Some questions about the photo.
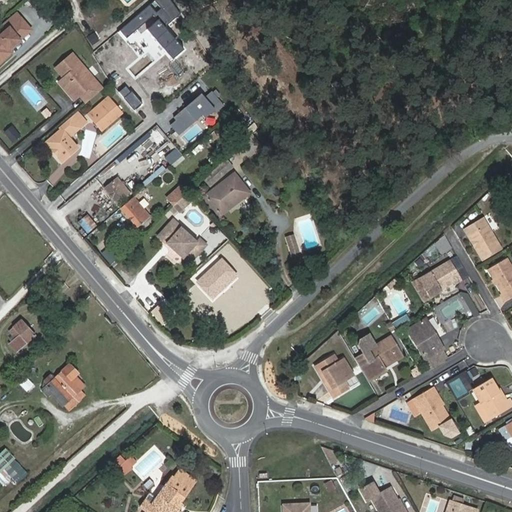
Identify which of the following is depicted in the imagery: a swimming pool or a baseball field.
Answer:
swimming pool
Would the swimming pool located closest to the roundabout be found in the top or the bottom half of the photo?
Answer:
bottom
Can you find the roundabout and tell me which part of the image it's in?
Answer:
bottom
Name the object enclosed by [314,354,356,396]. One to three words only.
house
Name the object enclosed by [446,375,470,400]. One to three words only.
swimming pool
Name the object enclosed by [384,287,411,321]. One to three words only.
swimming pool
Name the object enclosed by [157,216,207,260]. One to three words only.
house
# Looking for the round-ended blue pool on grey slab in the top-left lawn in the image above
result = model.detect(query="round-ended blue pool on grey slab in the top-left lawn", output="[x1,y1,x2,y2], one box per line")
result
[20,80,48,112]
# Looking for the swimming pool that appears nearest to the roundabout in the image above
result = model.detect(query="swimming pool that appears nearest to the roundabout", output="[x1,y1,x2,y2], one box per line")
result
[133,448,166,493]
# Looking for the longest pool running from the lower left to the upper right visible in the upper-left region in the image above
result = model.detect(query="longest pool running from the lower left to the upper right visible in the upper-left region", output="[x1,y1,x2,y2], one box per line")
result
[92,118,129,157]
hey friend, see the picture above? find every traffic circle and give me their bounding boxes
[190,364,283,454]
